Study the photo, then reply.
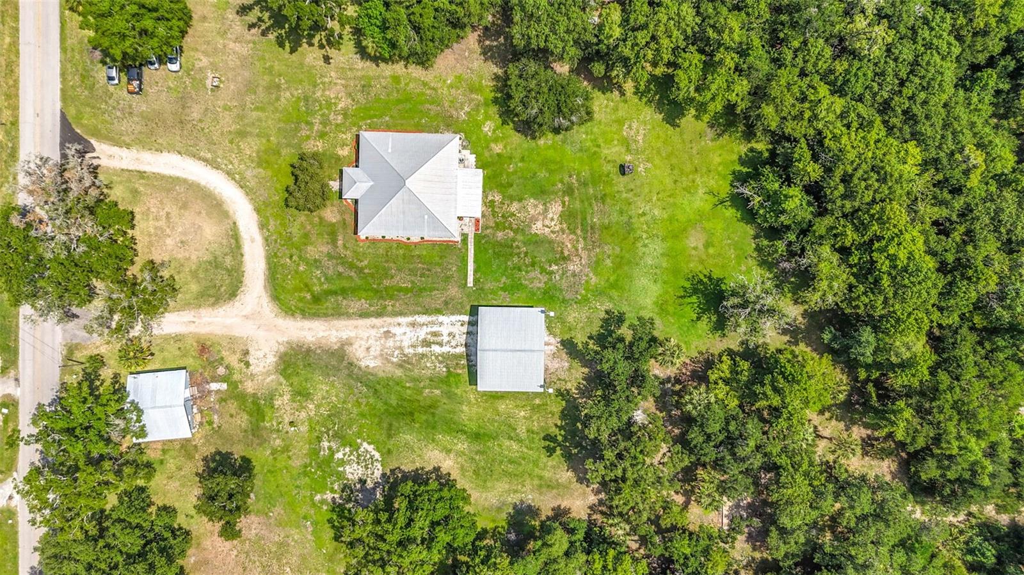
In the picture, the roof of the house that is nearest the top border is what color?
white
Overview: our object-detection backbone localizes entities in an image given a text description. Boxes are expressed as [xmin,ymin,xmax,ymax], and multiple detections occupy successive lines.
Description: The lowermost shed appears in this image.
[124,367,199,443]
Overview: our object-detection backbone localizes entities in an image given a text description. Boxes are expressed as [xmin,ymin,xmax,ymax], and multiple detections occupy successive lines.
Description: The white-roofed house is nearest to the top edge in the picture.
[342,131,484,238]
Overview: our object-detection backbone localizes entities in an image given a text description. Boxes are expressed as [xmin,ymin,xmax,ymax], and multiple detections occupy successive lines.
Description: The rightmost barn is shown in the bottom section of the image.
[477,307,545,392]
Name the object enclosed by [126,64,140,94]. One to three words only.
vehicle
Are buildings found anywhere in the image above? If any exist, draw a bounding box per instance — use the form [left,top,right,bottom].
[124,367,199,443]
[477,307,545,392]
[342,131,484,238]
